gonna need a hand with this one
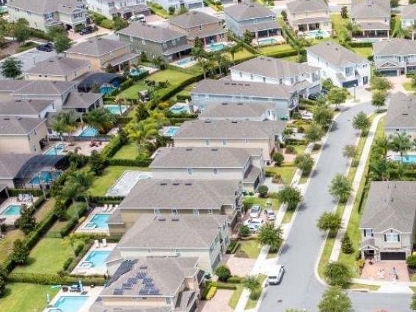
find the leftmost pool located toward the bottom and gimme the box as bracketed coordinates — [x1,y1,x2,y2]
[0,203,19,217]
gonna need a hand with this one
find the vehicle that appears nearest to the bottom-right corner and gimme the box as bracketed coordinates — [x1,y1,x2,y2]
[267,264,284,285]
